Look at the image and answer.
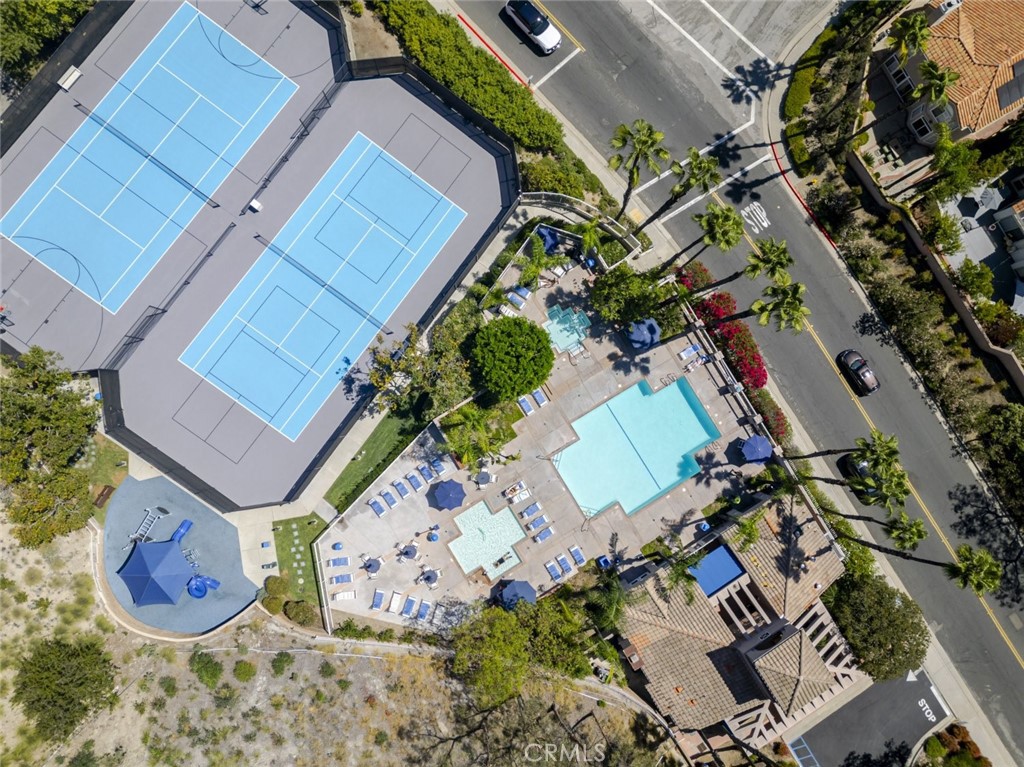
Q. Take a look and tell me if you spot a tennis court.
Yes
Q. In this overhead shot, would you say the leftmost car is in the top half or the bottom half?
top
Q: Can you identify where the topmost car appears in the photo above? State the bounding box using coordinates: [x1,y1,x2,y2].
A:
[506,0,559,53]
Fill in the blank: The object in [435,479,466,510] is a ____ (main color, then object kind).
blue umbrella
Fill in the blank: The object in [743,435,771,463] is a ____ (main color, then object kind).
blue umbrella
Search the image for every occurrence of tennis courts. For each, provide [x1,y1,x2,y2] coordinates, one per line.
[120,74,515,506]
[0,0,351,372]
